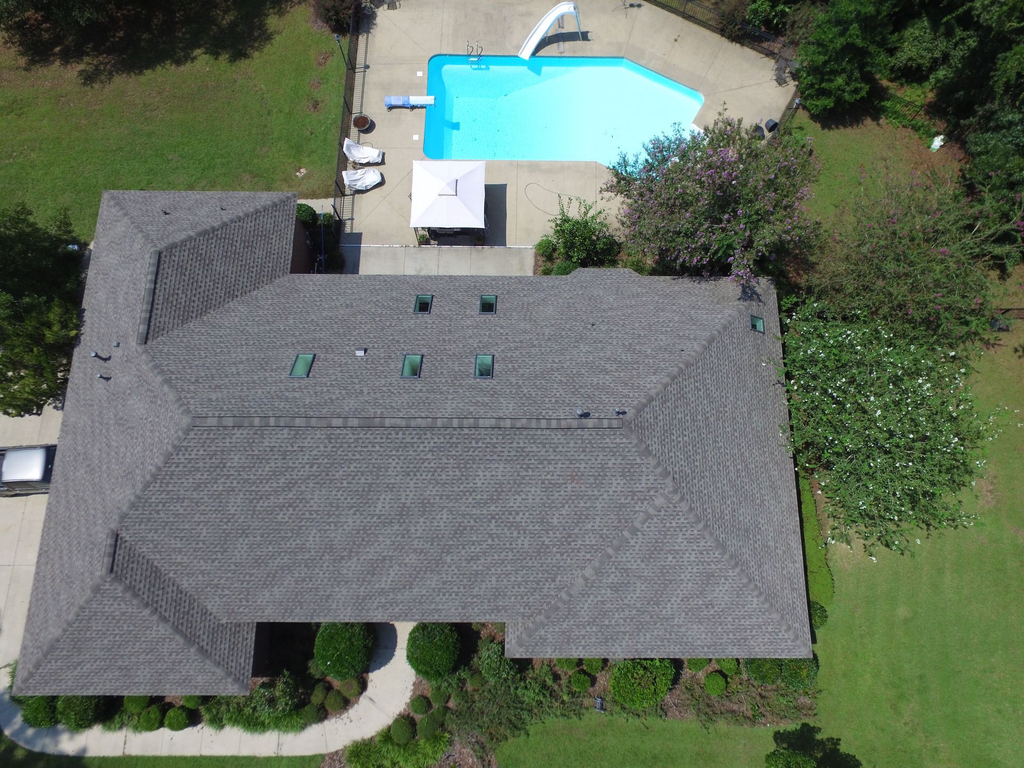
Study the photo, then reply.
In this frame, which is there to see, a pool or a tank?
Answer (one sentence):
This aerial view contains a pool.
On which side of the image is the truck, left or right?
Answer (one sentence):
The truck appears in the left half of the scene.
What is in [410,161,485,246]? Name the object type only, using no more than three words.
gazebo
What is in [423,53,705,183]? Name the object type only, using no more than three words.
swimming pool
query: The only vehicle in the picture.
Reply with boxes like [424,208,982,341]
[0,442,58,496]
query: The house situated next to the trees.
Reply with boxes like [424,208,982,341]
[13,191,812,695]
